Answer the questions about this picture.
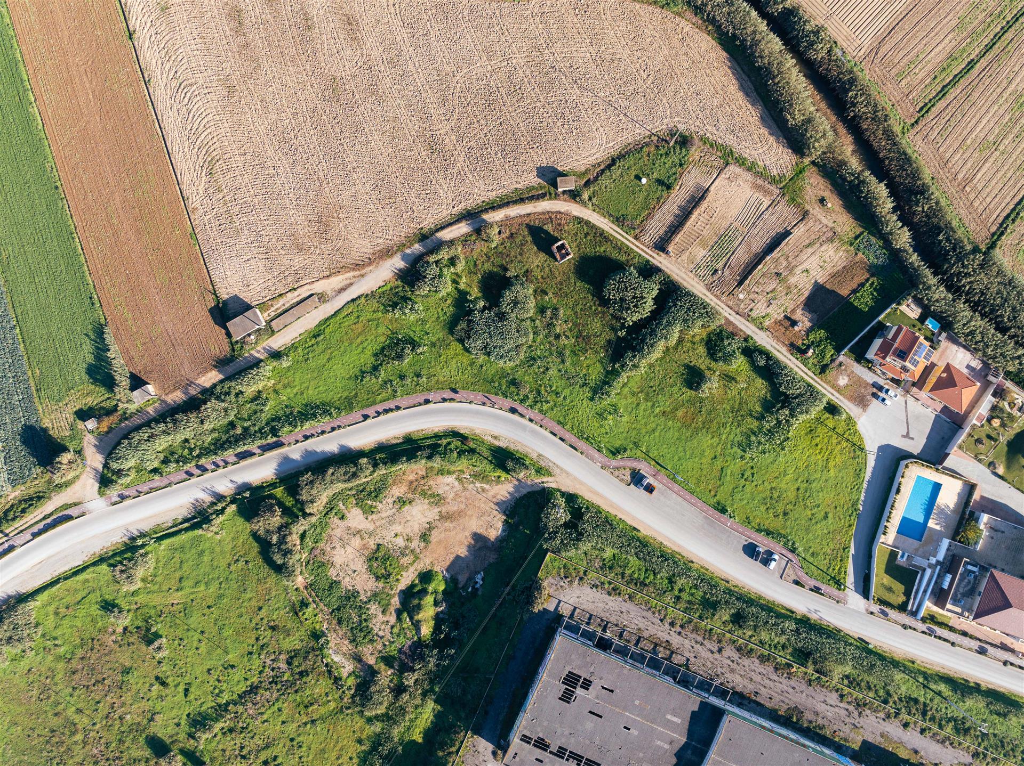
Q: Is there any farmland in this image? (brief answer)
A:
Yes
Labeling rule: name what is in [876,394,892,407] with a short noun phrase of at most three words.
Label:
vehicle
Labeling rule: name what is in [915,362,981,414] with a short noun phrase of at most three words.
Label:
house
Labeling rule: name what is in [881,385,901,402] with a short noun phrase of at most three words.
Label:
vehicle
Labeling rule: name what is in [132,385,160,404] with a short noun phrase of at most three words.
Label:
shed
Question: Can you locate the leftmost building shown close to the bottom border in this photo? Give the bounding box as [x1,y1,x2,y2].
[496,611,732,766]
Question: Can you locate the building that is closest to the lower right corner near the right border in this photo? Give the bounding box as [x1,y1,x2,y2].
[934,555,1024,639]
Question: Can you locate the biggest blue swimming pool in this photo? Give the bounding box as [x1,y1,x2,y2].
[896,473,945,545]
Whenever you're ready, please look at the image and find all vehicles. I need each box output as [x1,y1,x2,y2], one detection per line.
[637,476,649,490]
[876,394,892,407]
[752,546,763,563]
[767,553,779,570]
[881,385,901,402]
[646,484,656,495]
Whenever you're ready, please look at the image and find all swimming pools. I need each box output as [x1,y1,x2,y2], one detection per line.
[925,316,943,332]
[896,473,945,545]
